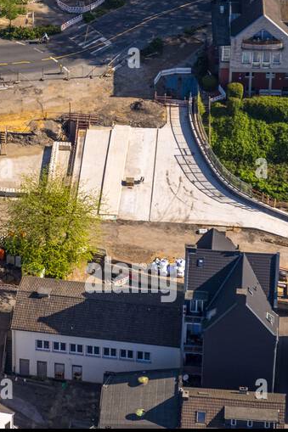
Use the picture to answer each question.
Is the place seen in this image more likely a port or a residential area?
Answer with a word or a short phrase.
residential area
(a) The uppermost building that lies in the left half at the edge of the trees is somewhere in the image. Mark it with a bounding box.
[11,266,188,386]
